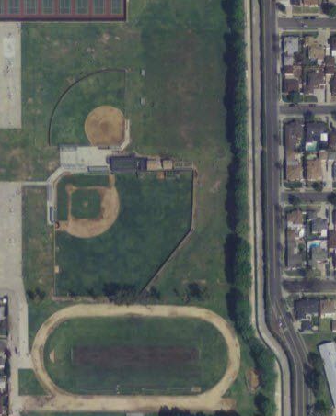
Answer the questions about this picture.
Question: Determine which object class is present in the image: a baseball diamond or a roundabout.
baseball diamond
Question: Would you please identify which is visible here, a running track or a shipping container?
running track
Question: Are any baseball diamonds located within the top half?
Yes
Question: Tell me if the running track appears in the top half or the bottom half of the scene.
bottom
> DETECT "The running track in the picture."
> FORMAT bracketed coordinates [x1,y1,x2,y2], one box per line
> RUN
[21,304,239,412]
